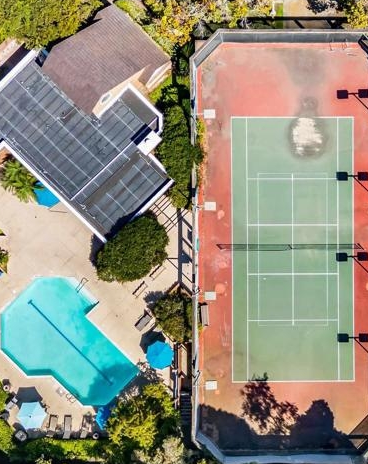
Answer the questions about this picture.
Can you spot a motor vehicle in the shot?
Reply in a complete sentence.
No, I can't see a single motor vehicle in this photo.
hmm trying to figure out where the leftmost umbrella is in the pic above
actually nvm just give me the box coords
[18,400,49,428]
